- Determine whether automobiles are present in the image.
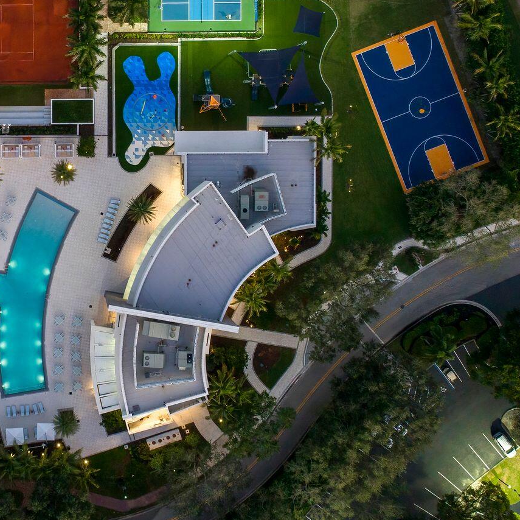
Yes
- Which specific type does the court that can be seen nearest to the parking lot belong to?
basketball court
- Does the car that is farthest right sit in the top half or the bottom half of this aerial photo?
bottom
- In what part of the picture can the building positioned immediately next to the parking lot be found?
center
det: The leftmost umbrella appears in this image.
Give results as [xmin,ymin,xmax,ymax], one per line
[6,426,23,445]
